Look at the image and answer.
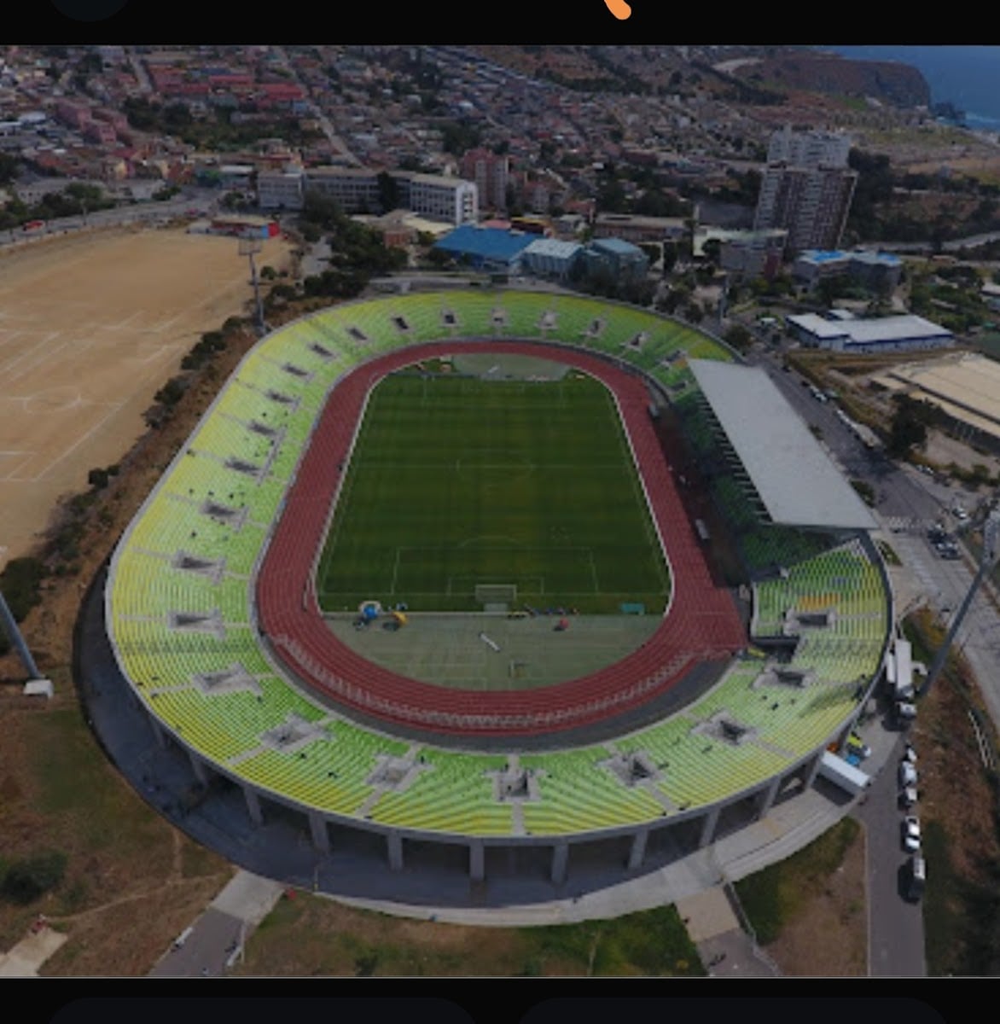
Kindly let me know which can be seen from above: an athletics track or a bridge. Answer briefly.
athletics track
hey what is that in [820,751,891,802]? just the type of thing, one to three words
truck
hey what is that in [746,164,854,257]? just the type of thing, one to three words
building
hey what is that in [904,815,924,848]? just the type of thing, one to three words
car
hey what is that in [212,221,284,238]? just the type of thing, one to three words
building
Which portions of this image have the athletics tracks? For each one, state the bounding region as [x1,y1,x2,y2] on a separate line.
[264,343,726,735]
